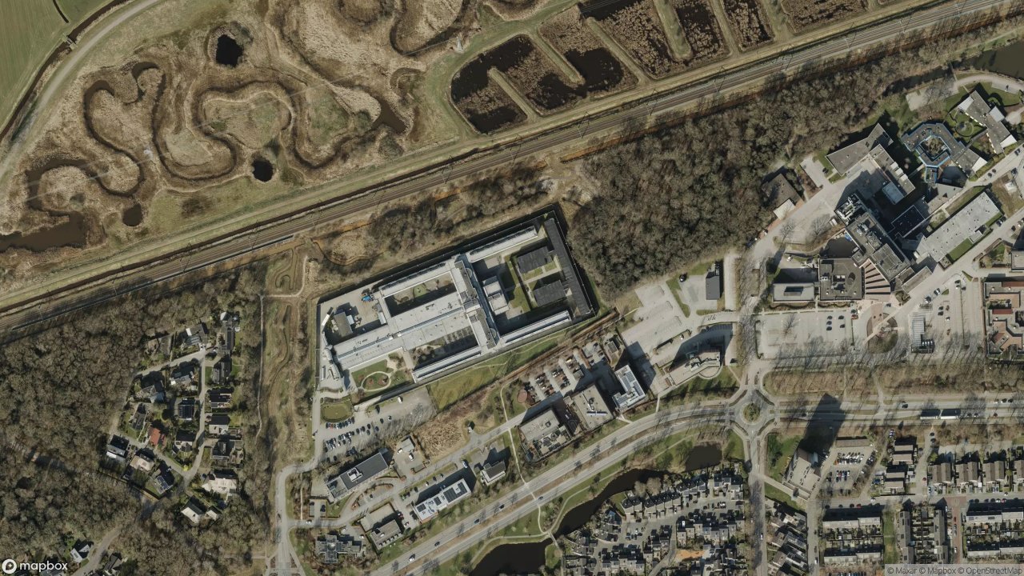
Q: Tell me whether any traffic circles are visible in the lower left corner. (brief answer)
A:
No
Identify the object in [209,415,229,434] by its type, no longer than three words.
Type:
house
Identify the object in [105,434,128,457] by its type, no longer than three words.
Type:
house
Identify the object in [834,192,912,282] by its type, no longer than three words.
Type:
building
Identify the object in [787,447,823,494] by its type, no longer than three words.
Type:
building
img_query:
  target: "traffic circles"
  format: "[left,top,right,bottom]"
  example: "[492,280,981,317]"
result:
[731,381,772,446]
